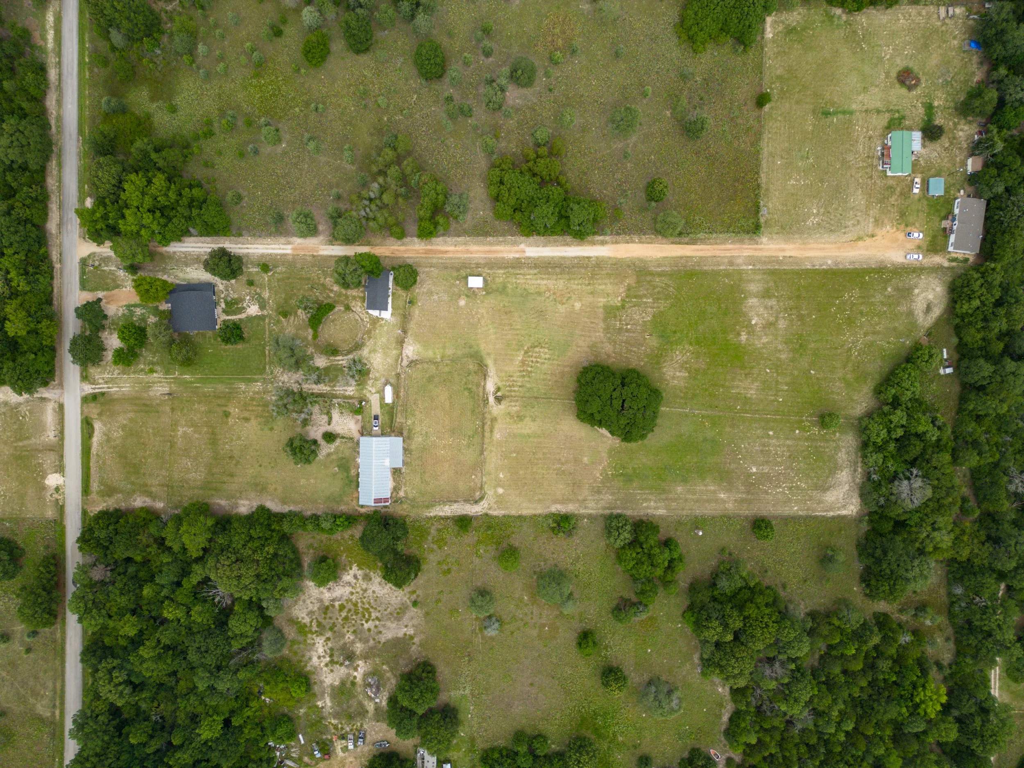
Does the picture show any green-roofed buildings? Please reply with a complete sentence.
Yes, the photo shows a green-roofed building.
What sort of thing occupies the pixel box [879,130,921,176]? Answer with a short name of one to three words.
house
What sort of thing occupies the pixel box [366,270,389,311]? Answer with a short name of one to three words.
house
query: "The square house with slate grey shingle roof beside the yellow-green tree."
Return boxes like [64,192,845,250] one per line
[165,283,219,331]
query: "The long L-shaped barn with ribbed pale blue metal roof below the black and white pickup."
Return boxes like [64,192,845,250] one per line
[360,436,403,505]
